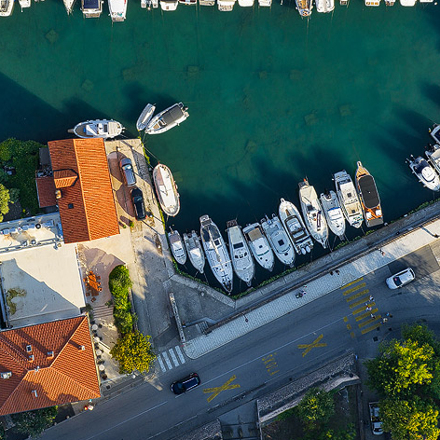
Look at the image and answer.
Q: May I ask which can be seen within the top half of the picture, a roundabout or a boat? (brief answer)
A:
boat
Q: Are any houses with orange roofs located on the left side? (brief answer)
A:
Yes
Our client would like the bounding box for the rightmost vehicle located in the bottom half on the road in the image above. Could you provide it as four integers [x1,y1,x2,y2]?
[383,266,418,290]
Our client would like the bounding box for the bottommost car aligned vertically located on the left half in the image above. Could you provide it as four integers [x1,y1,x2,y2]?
[130,188,148,222]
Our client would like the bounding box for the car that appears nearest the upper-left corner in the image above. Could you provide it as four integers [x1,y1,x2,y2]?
[119,157,138,187]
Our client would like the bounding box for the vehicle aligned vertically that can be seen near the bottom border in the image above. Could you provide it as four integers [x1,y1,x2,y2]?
[369,401,385,435]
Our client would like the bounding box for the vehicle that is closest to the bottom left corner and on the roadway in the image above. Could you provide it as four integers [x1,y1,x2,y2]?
[168,371,202,395]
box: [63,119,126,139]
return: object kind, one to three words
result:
boat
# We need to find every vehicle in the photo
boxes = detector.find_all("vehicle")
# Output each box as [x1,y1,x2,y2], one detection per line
[119,157,138,187]
[369,401,385,435]
[168,371,202,395]
[383,266,418,290]
[130,188,148,222]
